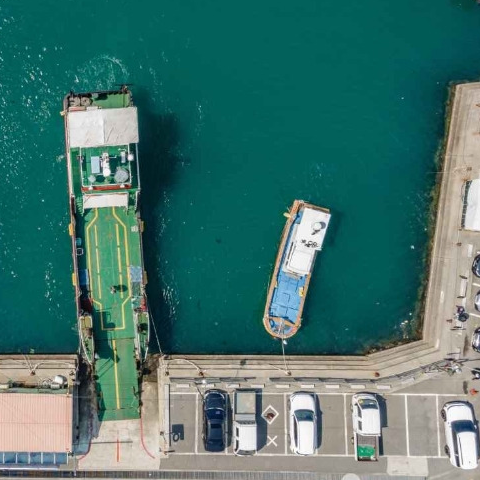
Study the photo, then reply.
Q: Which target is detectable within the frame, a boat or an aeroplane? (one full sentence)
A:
Visible in the photo is a boat.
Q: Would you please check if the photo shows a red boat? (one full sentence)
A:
No, the photo shows no red boat.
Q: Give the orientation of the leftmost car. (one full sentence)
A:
In this picture, the leftmost car lies up and down.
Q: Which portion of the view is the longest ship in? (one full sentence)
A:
The longest ship appears toward the left of the photo.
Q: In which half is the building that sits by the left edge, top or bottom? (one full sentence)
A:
The building that sits by the left edge sits in the bottom half of the picture.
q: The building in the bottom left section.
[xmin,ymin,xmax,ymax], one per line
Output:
[0,385,73,469]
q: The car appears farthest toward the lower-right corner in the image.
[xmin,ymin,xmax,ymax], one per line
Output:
[441,399,480,470]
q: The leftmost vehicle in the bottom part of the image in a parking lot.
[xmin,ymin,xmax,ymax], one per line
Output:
[202,387,230,452]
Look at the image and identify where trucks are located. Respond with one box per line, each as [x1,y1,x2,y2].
[232,389,261,456]
[352,393,384,461]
